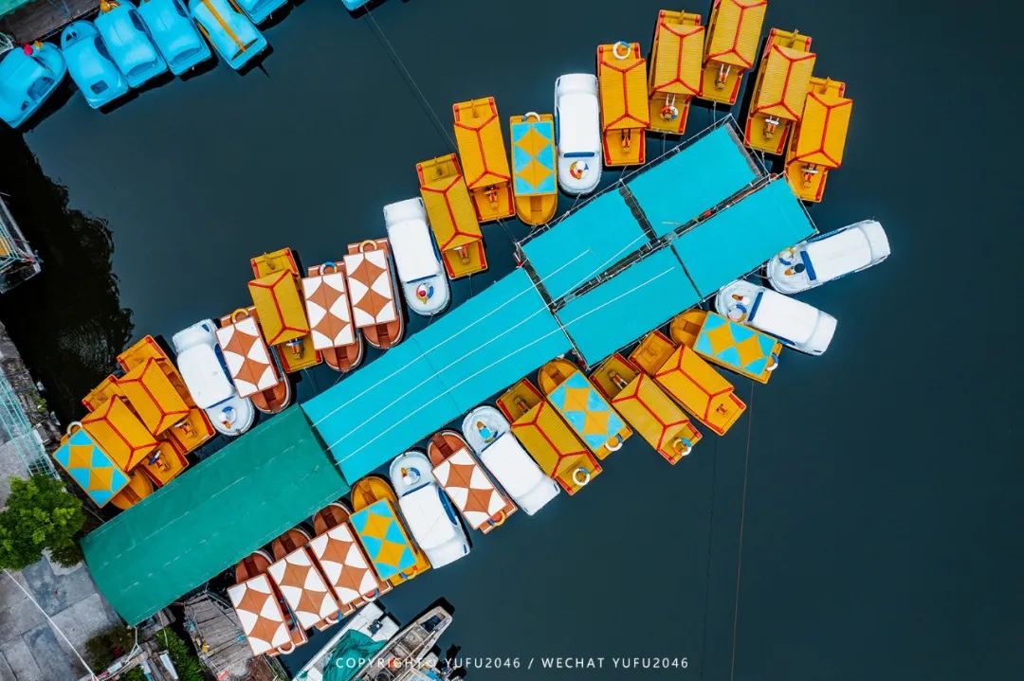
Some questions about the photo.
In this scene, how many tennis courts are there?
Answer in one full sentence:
Not a single tennis court can be seen.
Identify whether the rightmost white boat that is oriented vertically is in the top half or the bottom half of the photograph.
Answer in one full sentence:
The top half of the photo is where the rightmost white boat that is oriented vertically is.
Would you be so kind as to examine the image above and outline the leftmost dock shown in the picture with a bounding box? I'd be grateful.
[1,0,95,44]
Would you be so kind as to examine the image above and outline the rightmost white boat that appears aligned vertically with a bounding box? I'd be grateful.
[553,73,603,207]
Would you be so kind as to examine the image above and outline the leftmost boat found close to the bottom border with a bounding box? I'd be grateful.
[229,549,310,660]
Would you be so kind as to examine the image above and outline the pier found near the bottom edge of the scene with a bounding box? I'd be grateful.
[182,578,283,681]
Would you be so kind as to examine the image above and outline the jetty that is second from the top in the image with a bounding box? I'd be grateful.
[515,113,820,371]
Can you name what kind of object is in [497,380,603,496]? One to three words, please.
boat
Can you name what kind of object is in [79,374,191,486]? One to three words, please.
boat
